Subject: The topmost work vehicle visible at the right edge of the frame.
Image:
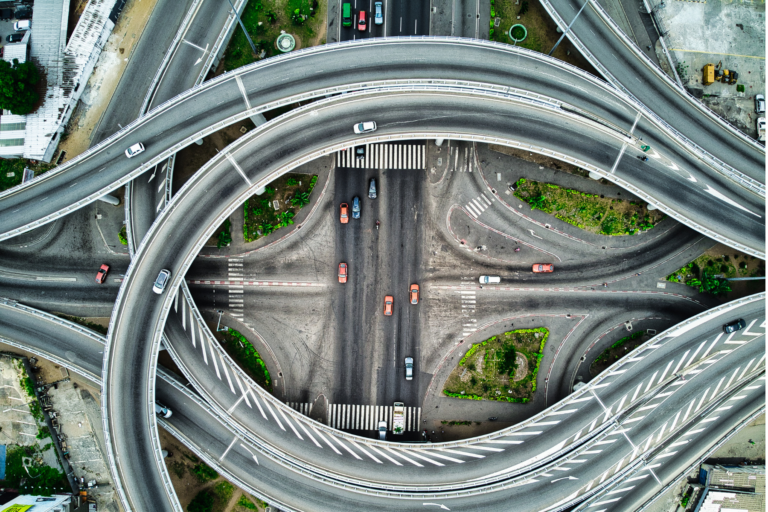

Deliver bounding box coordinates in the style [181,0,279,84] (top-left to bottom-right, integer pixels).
[714,61,738,84]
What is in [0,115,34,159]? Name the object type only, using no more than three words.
shed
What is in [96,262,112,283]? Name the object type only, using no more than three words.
car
